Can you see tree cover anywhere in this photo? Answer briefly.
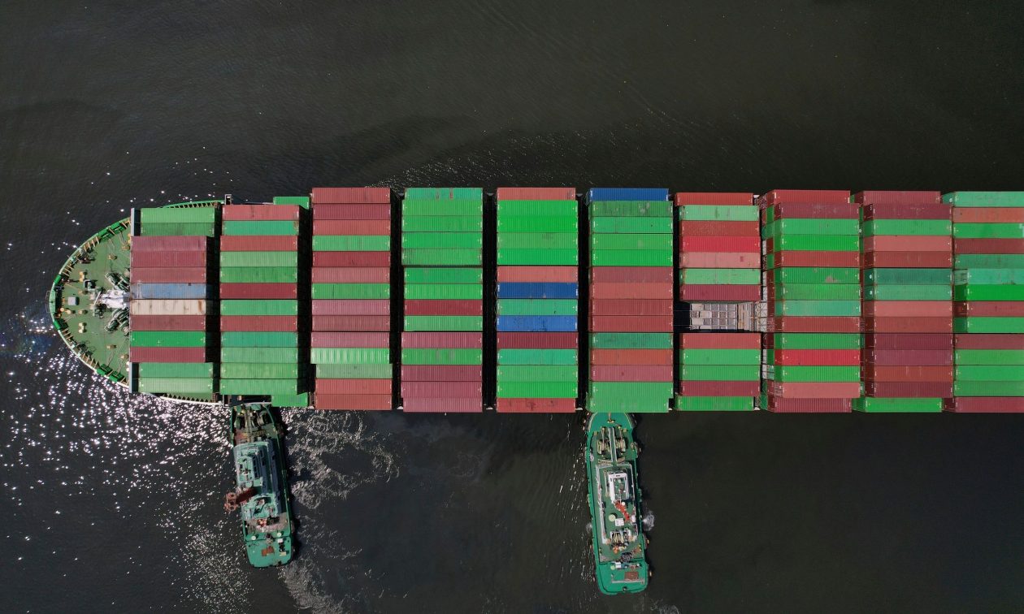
No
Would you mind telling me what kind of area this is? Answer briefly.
port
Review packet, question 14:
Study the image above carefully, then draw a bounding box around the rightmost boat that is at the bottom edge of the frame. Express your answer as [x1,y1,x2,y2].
[582,408,648,595]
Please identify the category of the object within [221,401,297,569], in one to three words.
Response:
boat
